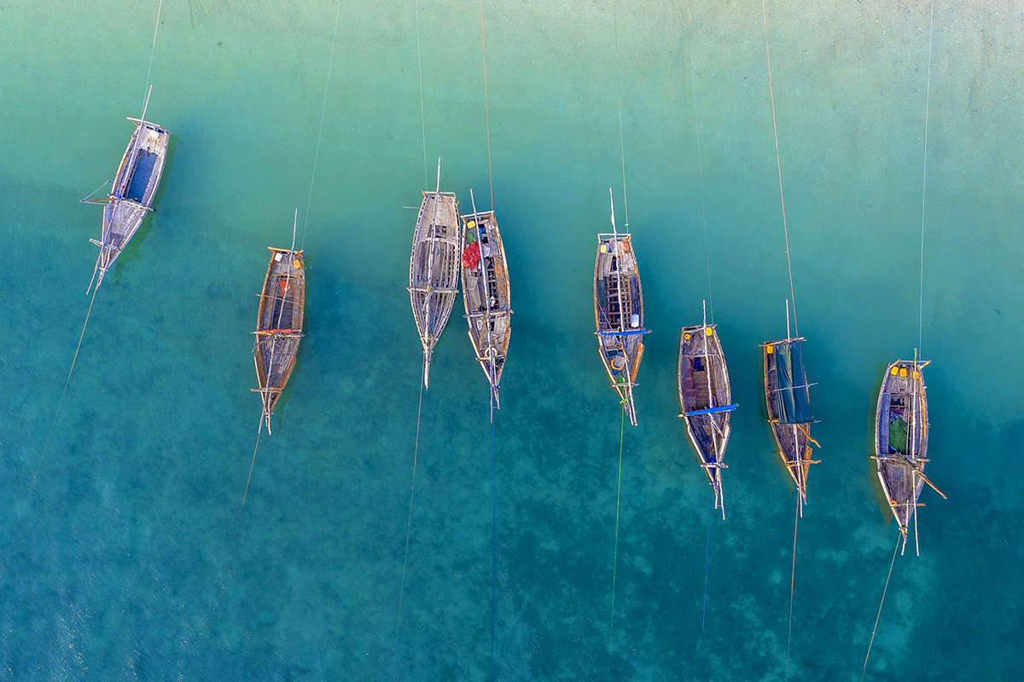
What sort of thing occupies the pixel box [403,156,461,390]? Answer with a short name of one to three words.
boat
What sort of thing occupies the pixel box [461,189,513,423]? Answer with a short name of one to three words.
boat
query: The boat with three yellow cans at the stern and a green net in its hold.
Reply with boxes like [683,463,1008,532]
[869,349,932,556]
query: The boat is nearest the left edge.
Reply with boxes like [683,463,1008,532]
[81,85,177,294]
